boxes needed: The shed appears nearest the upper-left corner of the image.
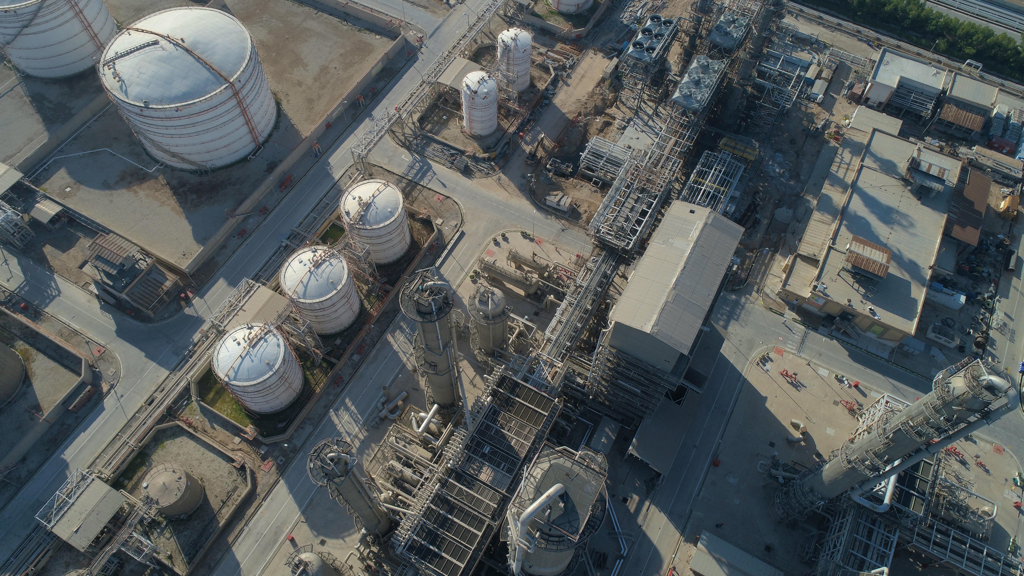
[0,161,29,202]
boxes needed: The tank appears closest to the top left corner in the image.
[0,0,118,78]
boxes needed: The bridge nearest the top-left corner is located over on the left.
[350,107,406,177]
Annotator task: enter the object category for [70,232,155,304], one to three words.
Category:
building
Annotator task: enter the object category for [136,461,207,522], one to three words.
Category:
storage tank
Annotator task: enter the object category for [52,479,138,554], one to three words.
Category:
shed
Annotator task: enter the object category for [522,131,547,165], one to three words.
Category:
work vehicle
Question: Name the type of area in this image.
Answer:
industrial area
